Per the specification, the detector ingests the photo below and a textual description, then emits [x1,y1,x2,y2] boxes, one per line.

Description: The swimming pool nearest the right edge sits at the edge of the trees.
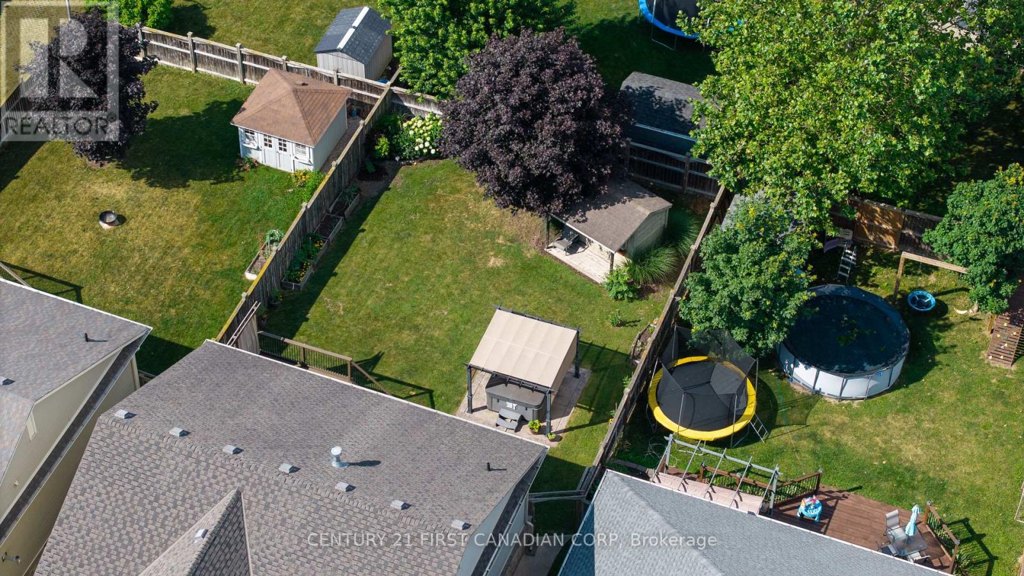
[773,286,910,408]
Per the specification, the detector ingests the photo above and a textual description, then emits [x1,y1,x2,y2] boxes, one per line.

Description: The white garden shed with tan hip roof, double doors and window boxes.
[229,69,353,176]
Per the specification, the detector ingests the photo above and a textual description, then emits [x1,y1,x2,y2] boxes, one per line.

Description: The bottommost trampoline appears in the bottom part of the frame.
[644,325,761,450]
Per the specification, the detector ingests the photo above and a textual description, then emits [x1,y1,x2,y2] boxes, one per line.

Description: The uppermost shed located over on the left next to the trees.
[313,6,394,81]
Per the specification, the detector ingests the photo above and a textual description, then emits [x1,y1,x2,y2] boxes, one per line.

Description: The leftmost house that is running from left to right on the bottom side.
[30,339,552,576]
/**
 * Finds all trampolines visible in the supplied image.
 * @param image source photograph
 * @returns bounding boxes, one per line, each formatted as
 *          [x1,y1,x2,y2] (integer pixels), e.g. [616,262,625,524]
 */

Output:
[638,0,726,51]
[644,325,761,450]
